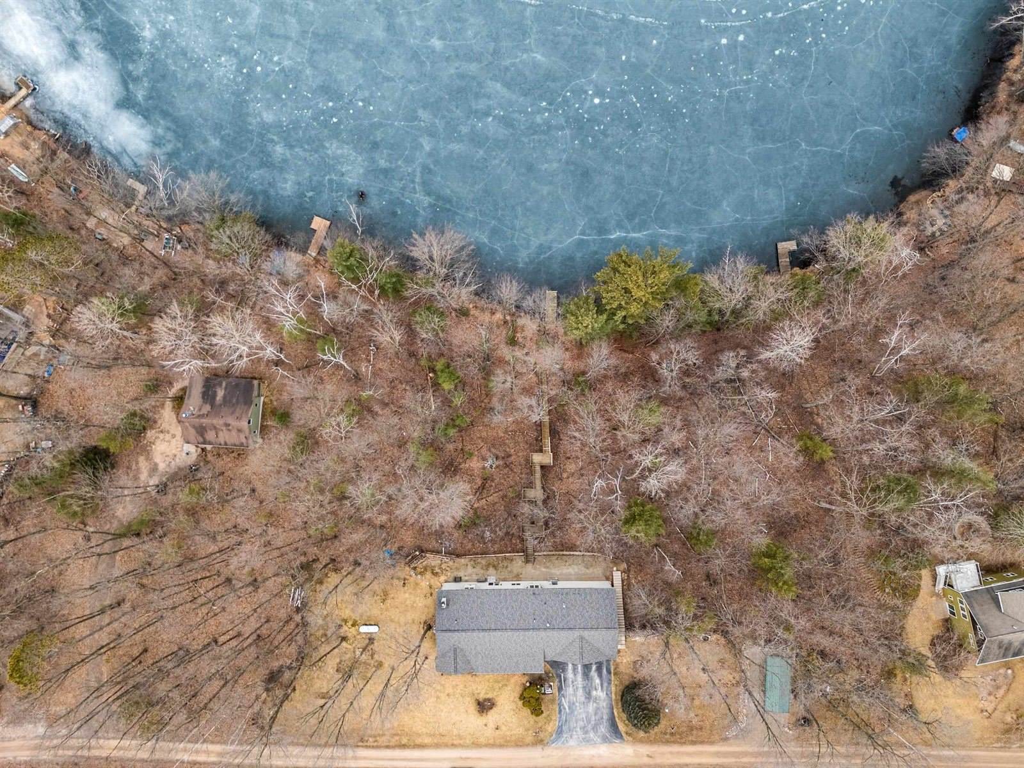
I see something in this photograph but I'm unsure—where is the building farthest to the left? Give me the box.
[179,378,264,448]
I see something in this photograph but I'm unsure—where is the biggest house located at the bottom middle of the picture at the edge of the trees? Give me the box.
[435,579,620,678]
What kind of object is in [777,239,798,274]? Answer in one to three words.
pier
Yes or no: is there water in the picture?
Yes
